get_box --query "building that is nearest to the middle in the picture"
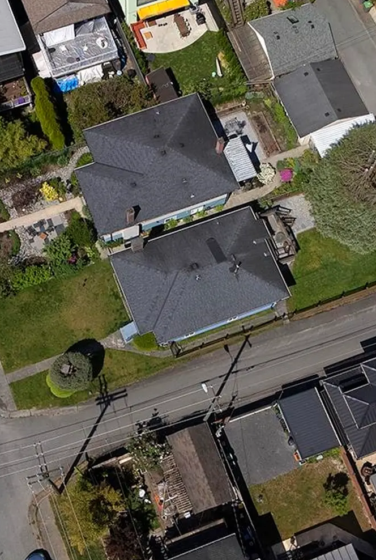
[108,206,291,349]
